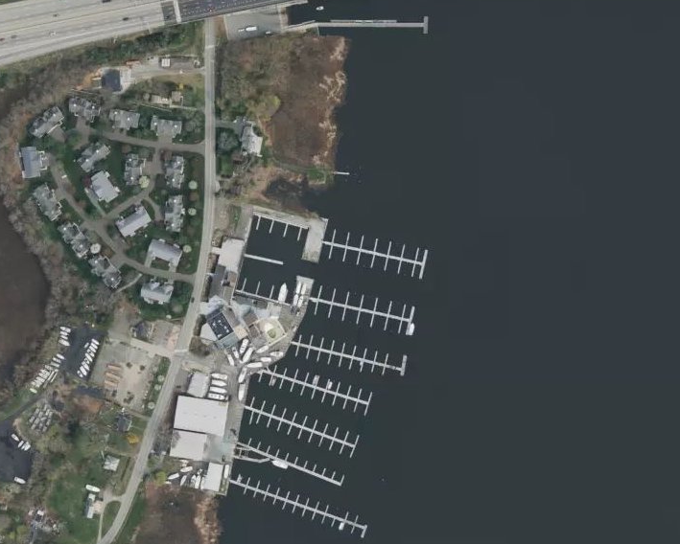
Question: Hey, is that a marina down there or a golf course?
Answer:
marina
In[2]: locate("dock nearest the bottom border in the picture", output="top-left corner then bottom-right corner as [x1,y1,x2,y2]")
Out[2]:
[229,474,368,537]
